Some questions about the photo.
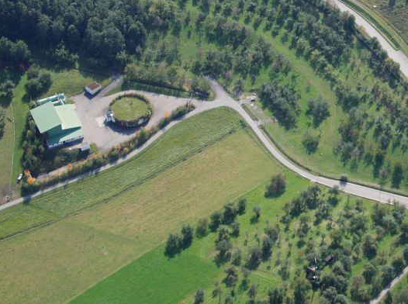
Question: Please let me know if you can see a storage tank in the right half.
No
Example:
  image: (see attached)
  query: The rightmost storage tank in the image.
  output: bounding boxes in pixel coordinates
[107,92,152,125]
